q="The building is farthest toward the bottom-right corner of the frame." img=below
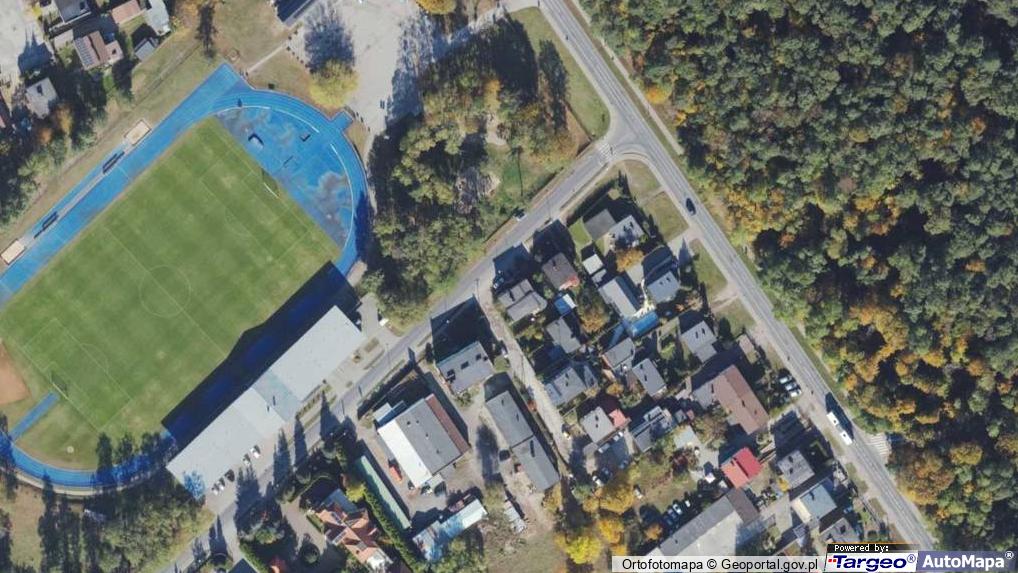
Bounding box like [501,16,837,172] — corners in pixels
[819,517,862,560]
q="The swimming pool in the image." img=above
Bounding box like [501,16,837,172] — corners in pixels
[627,307,665,340]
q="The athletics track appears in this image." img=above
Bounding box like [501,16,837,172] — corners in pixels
[0,62,373,495]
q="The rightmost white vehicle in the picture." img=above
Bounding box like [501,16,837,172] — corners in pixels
[827,413,852,445]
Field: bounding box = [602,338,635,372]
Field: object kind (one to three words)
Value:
house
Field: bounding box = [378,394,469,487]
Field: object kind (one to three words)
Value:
building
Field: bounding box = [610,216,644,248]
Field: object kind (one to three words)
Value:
house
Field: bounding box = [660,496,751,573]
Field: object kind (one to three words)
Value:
building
